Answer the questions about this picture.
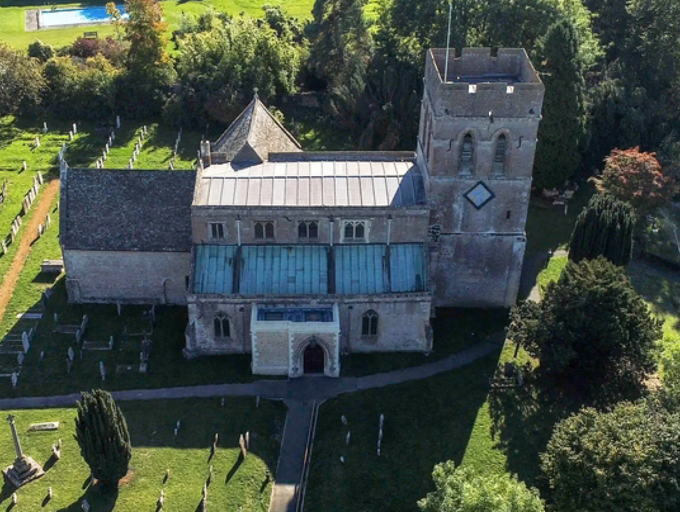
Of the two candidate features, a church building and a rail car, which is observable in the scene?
church building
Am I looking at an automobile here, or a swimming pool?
swimming pool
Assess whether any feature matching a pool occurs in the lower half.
No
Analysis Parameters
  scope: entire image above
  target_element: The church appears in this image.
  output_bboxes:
[56,2,548,378]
